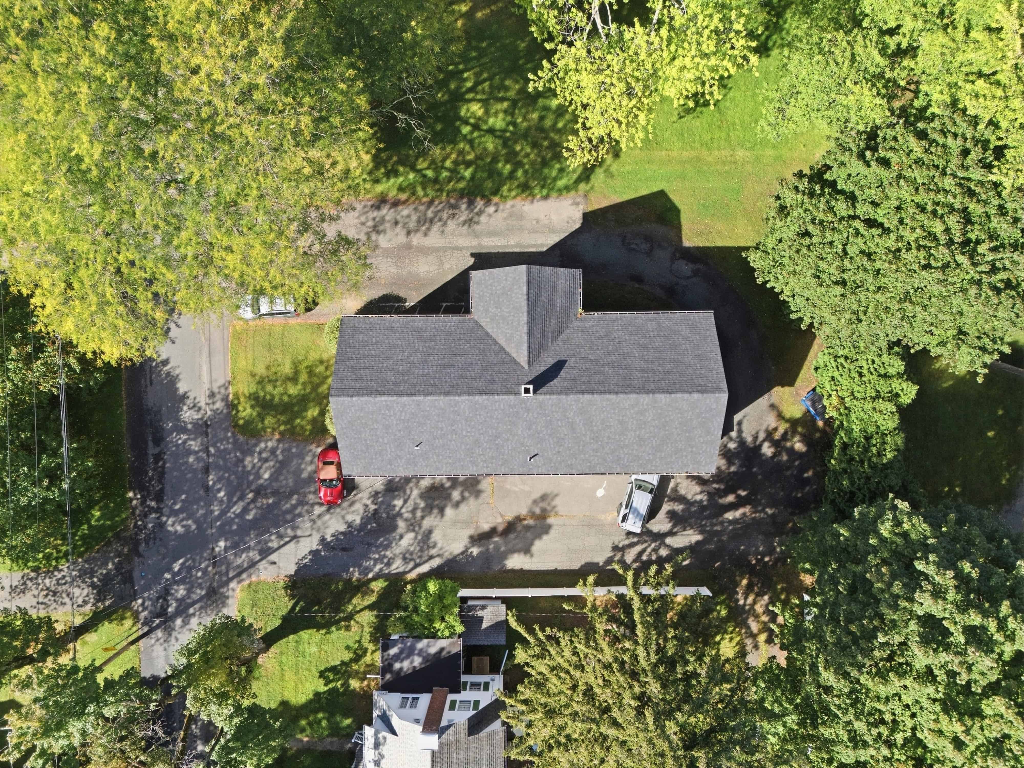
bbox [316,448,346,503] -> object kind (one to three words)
car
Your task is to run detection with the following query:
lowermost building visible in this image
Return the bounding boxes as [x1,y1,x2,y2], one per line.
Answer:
[357,625,511,768]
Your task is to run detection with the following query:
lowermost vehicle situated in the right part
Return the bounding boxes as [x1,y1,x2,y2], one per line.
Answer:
[617,476,657,532]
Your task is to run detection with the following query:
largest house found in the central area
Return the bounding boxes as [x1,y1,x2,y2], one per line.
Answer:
[330,265,730,480]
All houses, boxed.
[330,265,730,480]
[357,625,511,768]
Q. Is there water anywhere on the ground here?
No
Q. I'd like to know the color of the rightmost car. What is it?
white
